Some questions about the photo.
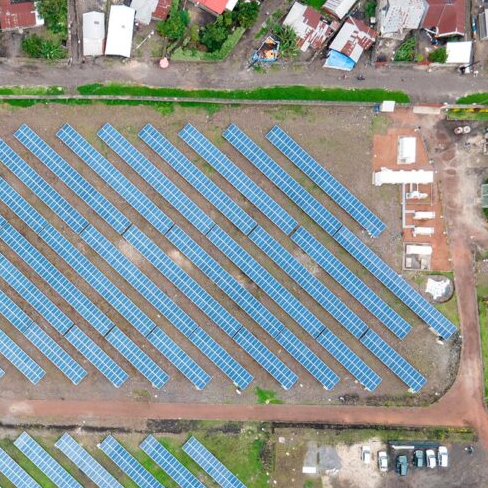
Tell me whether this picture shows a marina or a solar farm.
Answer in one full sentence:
The picture captures a solar farm.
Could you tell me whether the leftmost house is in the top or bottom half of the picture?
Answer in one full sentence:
The top half of the photo is where the leftmost house is.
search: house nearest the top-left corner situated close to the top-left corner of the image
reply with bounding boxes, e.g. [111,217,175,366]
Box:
[0,0,43,32]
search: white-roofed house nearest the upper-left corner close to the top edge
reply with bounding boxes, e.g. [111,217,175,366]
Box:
[83,13,104,55]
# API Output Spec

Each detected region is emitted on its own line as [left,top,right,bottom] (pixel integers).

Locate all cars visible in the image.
[377,452,388,472]
[425,449,437,469]
[361,444,371,464]
[396,455,408,477]
[413,449,425,468]
[437,446,448,467]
